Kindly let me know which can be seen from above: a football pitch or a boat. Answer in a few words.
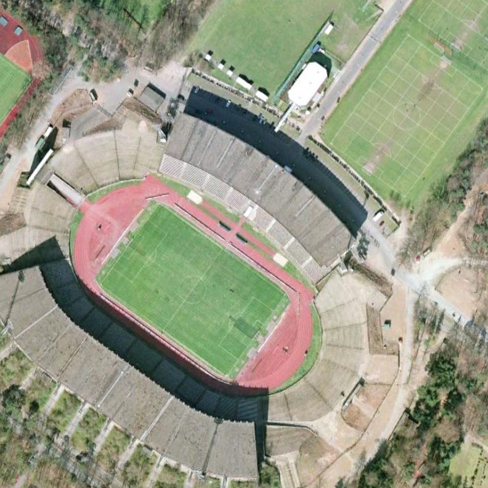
football pitch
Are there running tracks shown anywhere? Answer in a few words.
Yes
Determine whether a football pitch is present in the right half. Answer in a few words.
Yes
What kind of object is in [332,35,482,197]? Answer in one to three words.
soccer field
